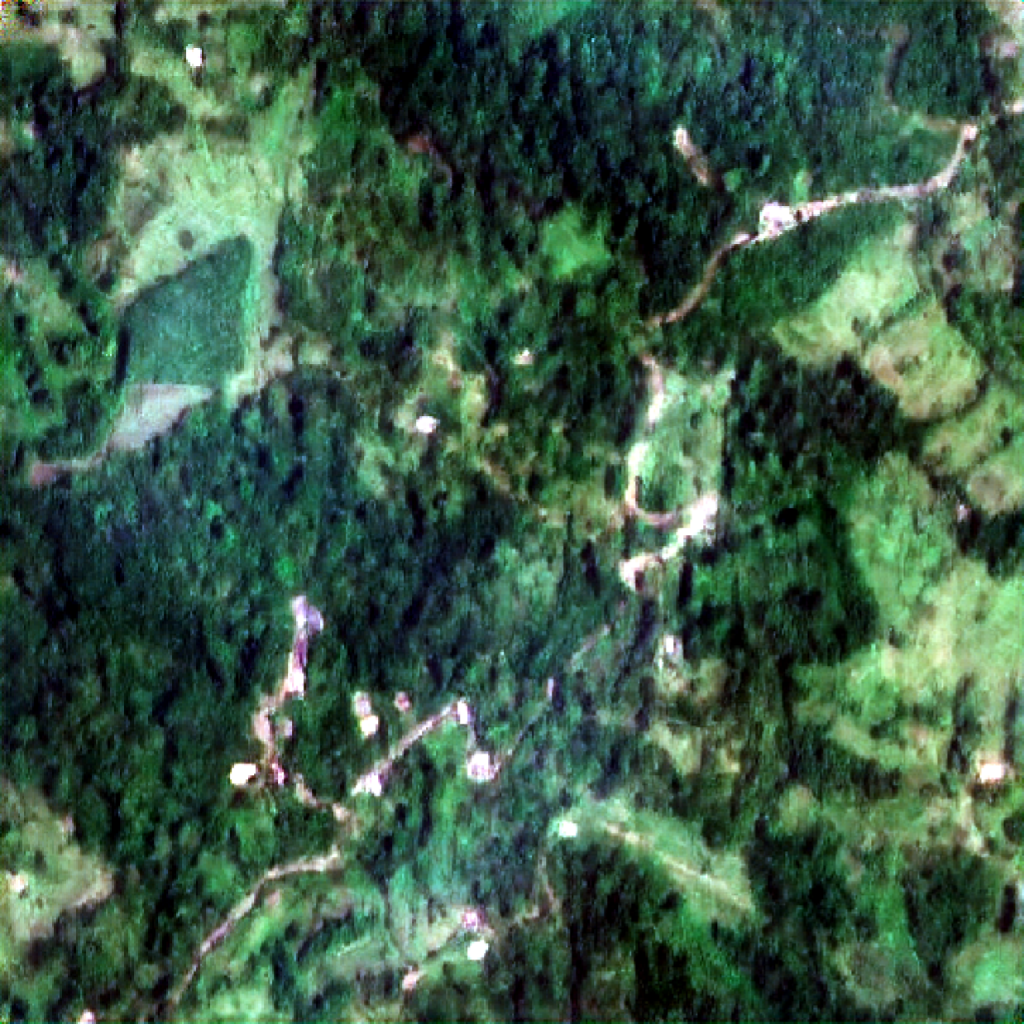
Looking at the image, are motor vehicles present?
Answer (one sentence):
No, I can't see a single motor vehicle in this photo.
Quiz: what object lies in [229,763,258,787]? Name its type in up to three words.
building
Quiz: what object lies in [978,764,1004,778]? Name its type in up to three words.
house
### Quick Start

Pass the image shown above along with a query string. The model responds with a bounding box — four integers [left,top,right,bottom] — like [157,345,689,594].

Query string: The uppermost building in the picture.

[185,45,203,68]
